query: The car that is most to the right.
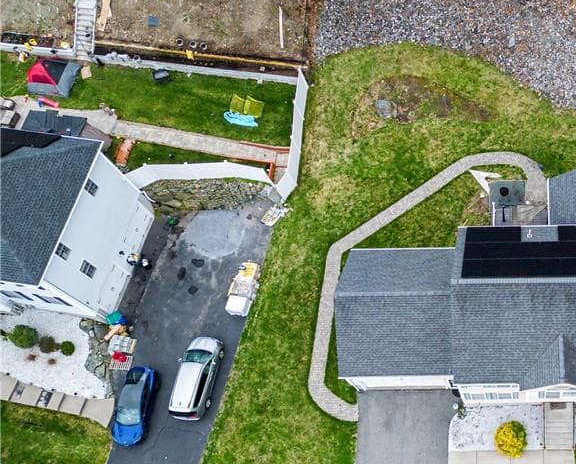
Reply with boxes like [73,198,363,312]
[171,337,228,421]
